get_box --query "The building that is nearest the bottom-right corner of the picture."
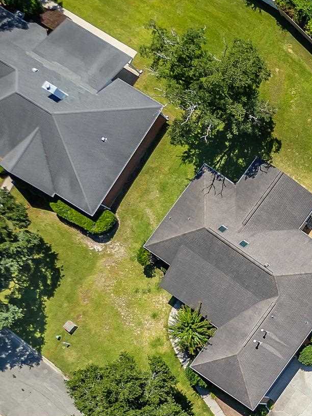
[144,156,312,411]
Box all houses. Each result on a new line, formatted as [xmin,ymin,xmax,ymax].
[0,7,170,217]
[144,156,312,411]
